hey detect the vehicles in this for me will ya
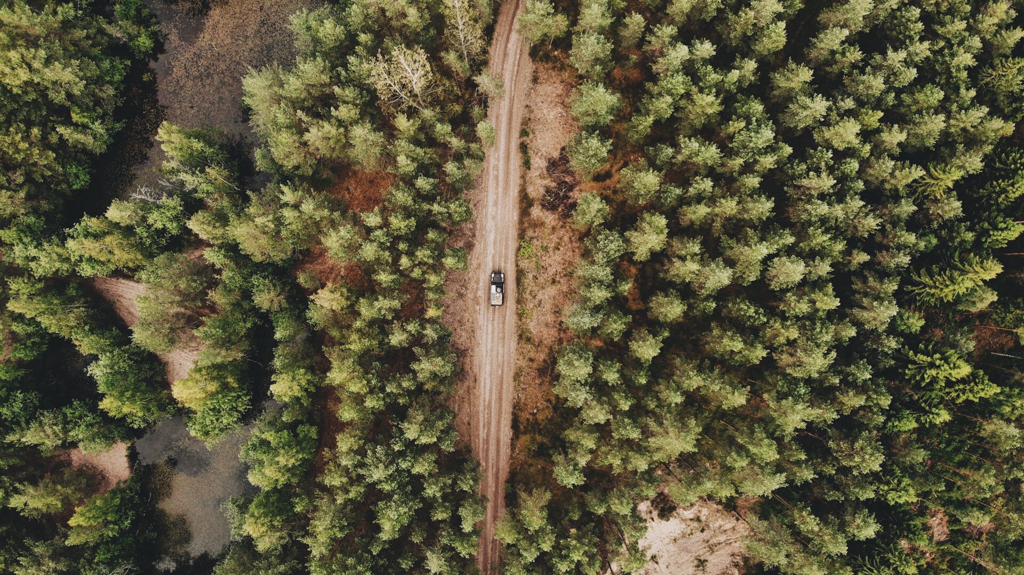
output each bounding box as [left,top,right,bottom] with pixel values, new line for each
[490,271,505,307]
